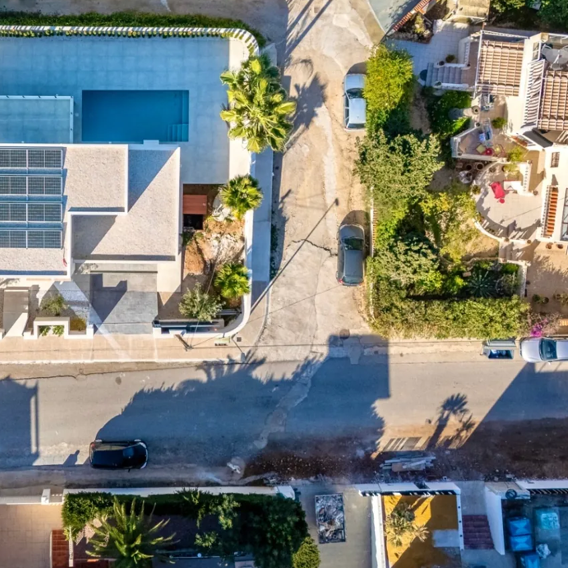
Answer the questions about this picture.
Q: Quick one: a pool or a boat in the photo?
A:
pool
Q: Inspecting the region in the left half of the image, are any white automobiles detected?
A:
No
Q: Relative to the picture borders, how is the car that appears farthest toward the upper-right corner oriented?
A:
up and down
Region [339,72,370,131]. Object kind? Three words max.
car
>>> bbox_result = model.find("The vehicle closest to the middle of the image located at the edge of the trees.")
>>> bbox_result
[334,223,367,287]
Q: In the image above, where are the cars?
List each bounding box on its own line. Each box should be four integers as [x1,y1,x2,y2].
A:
[334,223,367,287]
[339,72,370,131]
[91,439,147,472]
[516,335,568,366]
